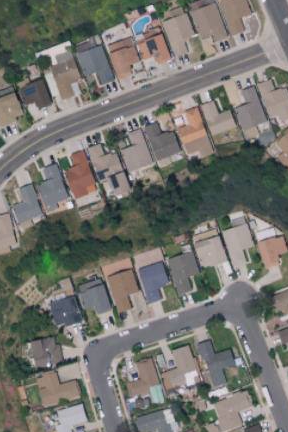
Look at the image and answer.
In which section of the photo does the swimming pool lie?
top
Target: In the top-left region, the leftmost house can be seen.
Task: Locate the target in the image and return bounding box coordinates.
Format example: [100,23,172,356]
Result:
[0,86,22,126]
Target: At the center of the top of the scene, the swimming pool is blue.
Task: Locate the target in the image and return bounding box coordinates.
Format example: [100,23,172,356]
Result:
[132,16,152,36]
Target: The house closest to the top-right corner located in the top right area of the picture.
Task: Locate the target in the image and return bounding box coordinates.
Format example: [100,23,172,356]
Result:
[221,0,250,35]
